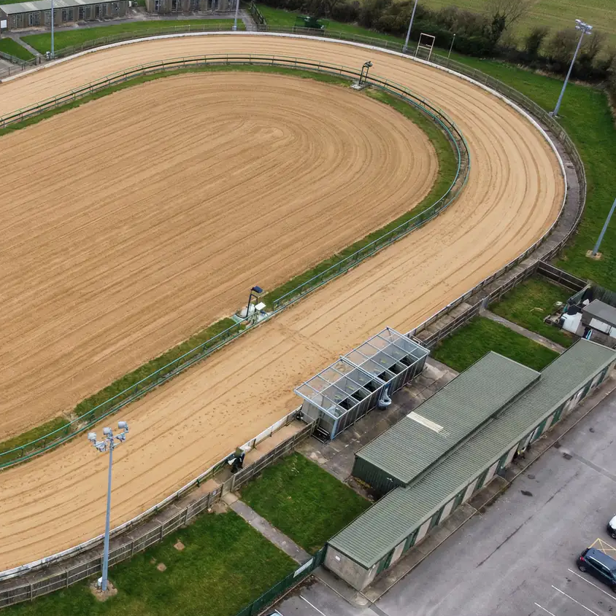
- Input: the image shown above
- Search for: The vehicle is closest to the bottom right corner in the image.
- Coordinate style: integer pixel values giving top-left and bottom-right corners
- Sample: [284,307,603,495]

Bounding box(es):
[577,544,616,587]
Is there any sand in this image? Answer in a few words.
Yes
